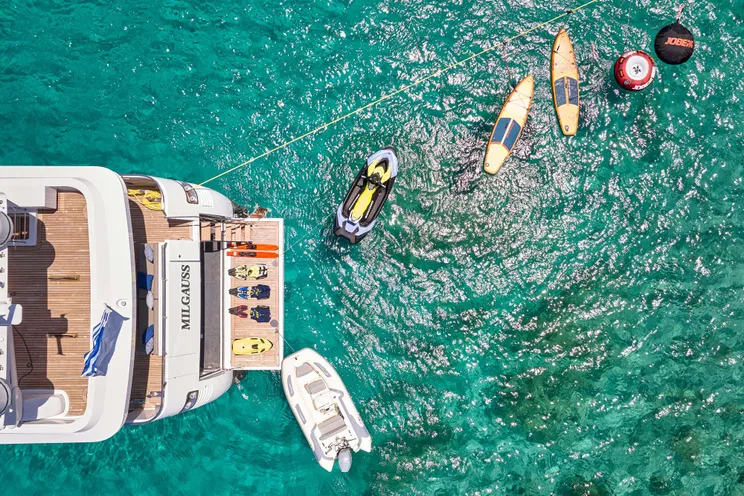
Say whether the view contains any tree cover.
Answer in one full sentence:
No, the picture contains no tree cover.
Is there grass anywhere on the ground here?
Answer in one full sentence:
No, the picture contains no grass.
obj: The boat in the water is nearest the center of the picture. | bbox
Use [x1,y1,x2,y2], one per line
[333,149,397,244]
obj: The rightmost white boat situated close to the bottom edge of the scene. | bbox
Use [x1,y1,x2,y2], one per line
[279,351,373,474]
